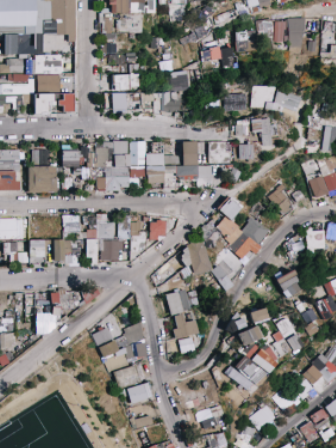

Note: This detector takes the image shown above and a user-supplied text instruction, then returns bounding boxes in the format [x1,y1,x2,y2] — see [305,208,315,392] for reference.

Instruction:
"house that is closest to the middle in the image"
[150,214,167,240]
